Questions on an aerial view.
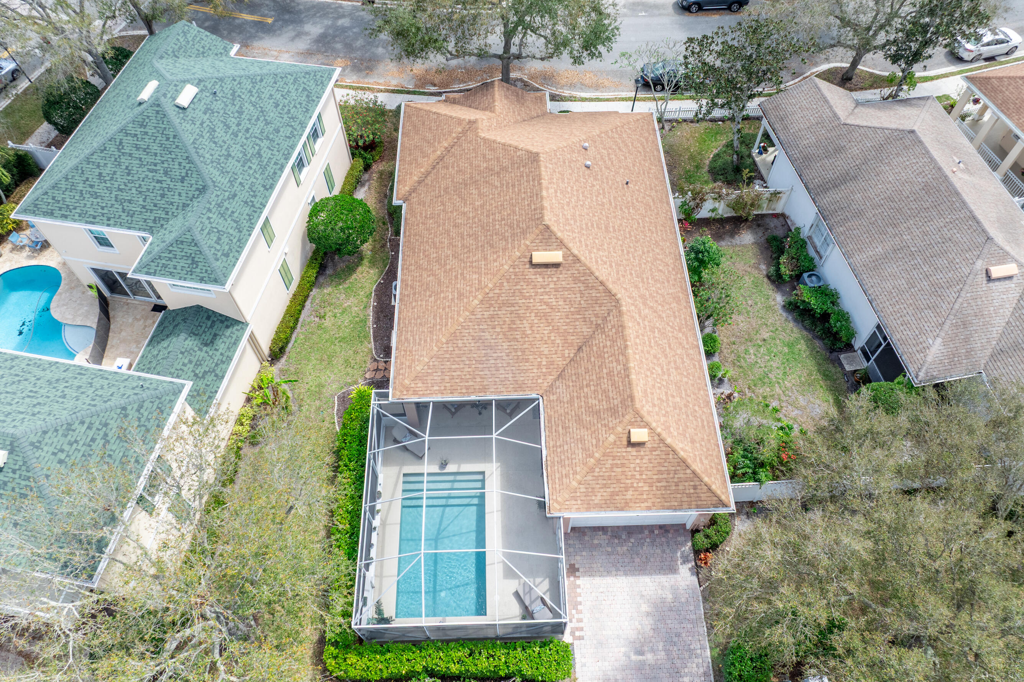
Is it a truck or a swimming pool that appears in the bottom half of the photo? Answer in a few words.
swimming pool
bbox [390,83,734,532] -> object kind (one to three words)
house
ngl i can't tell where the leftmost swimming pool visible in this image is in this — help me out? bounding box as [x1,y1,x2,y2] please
[0,265,95,362]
